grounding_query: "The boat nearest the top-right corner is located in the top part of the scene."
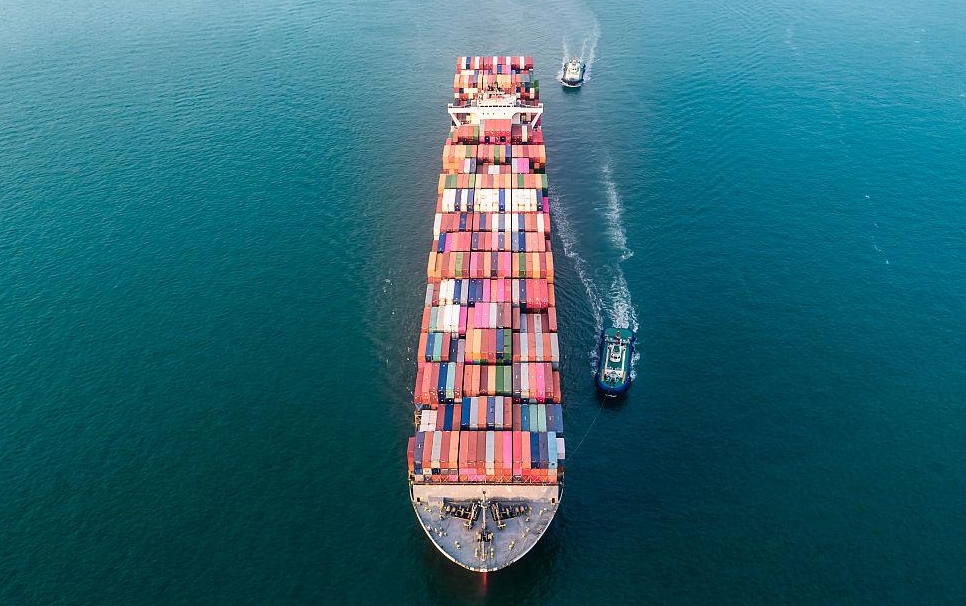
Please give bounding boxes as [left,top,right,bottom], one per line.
[561,51,584,86]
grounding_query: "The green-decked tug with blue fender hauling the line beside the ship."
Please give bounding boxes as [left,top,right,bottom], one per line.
[596,325,634,391]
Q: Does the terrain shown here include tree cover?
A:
No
